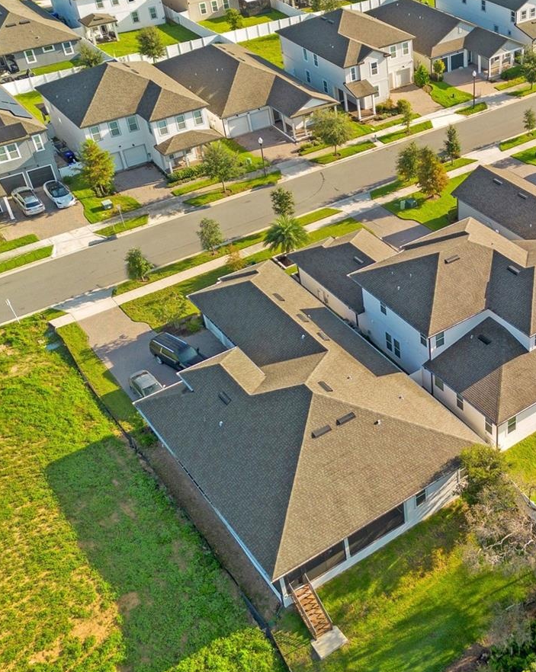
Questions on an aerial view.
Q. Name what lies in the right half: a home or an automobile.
home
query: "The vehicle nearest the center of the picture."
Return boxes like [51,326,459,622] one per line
[144,322,201,381]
